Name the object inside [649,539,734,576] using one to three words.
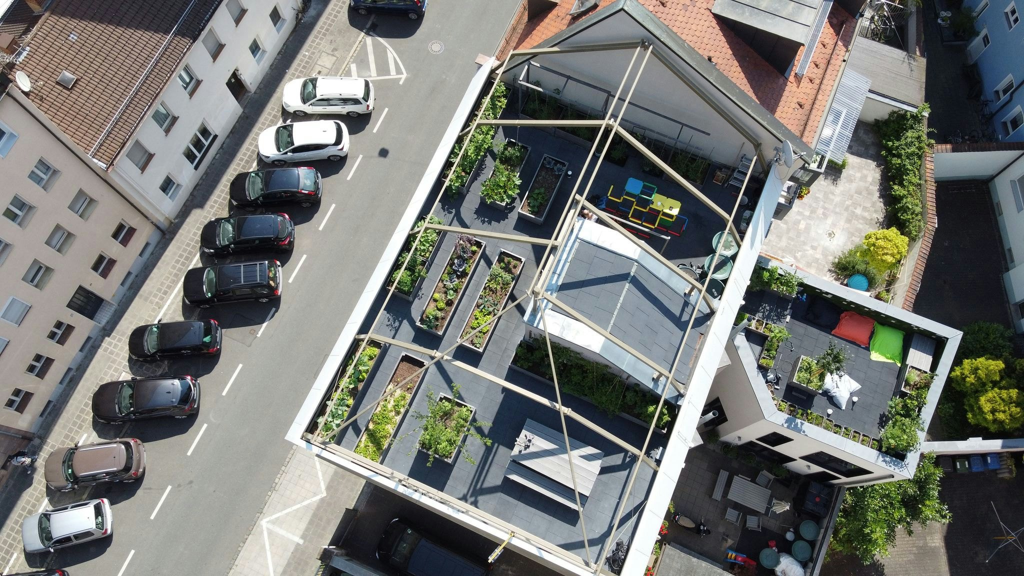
building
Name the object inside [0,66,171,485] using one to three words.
house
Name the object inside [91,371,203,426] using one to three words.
car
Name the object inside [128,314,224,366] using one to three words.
car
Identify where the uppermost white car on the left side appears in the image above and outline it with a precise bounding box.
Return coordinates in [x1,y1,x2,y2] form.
[282,74,376,121]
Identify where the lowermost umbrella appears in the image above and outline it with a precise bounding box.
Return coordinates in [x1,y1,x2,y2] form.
[764,494,792,517]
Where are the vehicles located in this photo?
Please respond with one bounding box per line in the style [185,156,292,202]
[282,74,376,121]
[91,371,203,426]
[21,497,117,557]
[373,515,500,576]
[200,210,297,259]
[183,255,284,309]
[666,512,715,541]
[229,165,324,213]
[257,120,351,167]
[128,314,224,366]
[43,435,150,492]
[347,0,428,19]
